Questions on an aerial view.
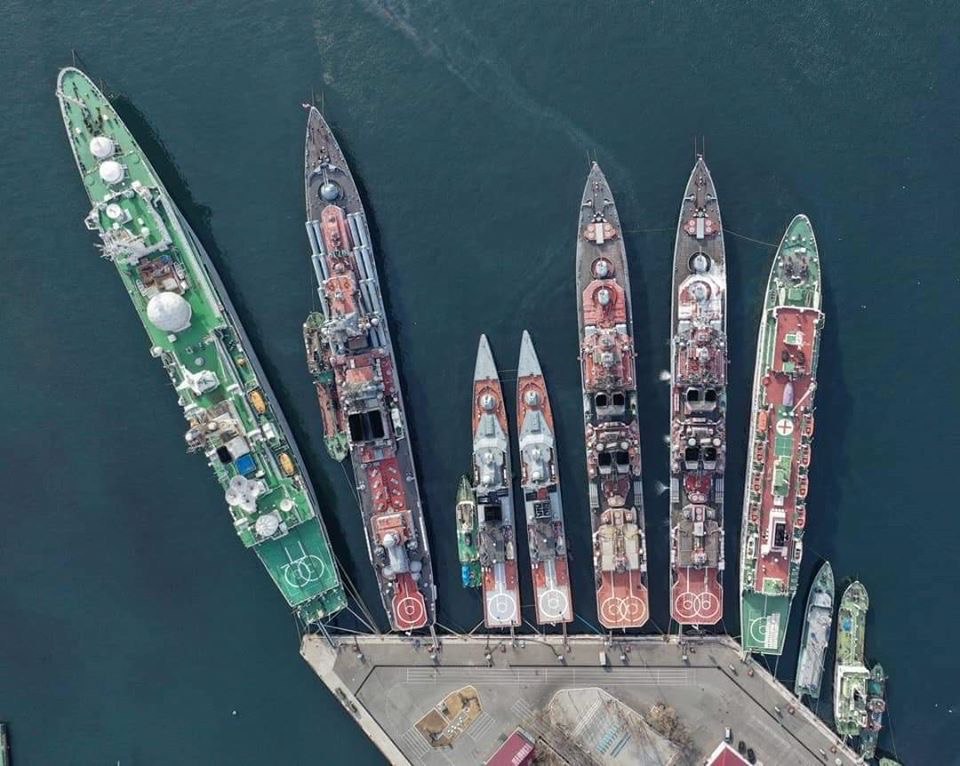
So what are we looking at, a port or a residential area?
port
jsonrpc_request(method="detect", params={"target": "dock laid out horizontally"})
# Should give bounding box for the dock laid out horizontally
[299,631,867,766]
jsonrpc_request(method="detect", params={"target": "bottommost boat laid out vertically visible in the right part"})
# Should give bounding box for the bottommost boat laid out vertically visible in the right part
[859,663,886,760]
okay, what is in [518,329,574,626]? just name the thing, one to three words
ship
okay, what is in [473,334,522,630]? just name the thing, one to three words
ship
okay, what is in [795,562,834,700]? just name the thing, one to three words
vessel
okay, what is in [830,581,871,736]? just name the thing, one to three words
boat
